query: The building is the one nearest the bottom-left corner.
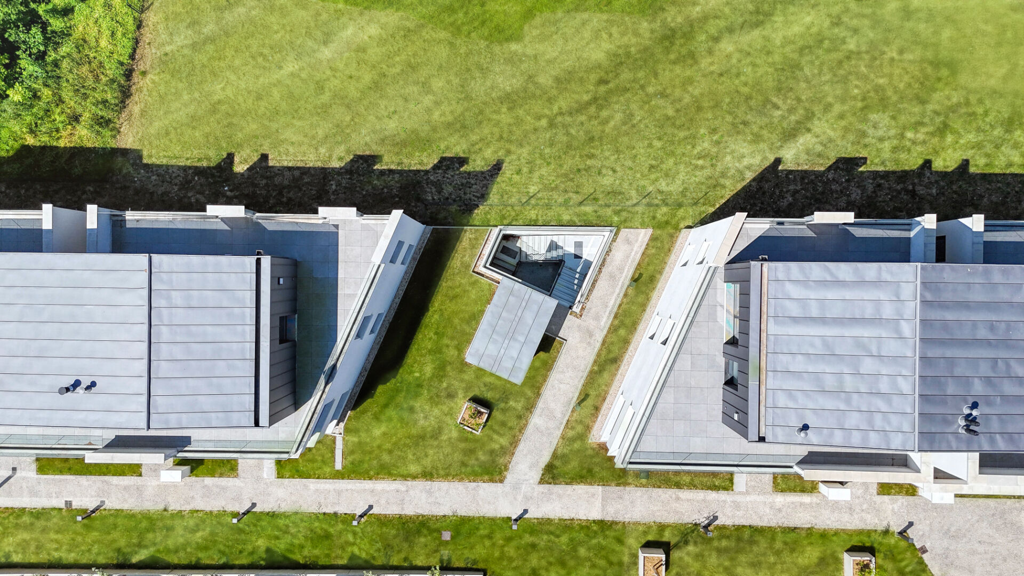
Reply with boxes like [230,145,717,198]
[0,204,426,463]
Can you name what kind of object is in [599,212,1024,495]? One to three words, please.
building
